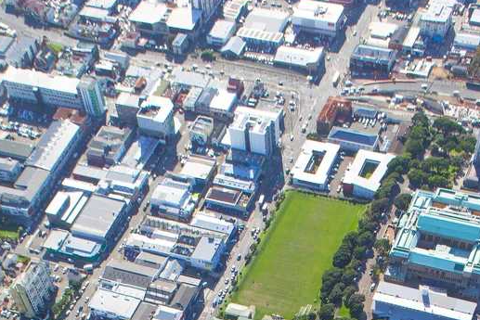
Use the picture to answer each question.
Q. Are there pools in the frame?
No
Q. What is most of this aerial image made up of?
buildings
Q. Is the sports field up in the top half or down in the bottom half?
bottom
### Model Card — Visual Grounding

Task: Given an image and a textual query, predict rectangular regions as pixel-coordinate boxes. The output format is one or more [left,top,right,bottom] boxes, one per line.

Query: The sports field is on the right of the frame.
[234,188,370,320]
